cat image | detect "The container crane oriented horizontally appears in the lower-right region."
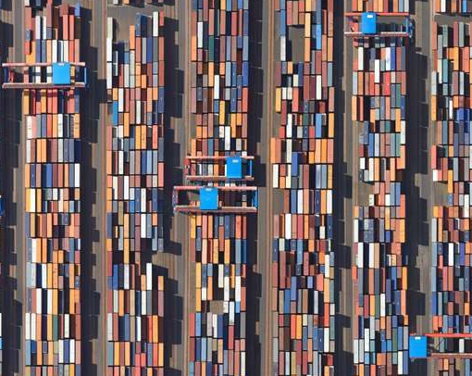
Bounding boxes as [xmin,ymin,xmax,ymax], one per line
[407,328,472,361]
